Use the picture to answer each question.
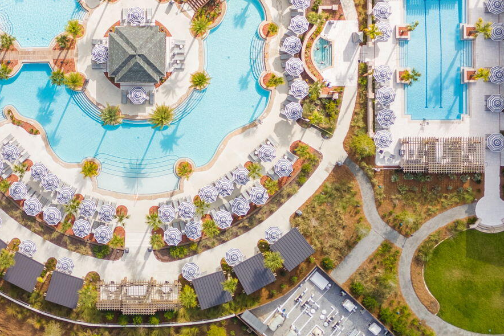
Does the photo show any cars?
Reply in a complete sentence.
No, the picture doesn't show any car.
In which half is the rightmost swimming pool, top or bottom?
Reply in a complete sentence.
It is in the top half that the rightmost swimming pool appears.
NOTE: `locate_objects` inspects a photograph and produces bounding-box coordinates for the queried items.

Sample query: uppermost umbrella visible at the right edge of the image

[486,0,504,15]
